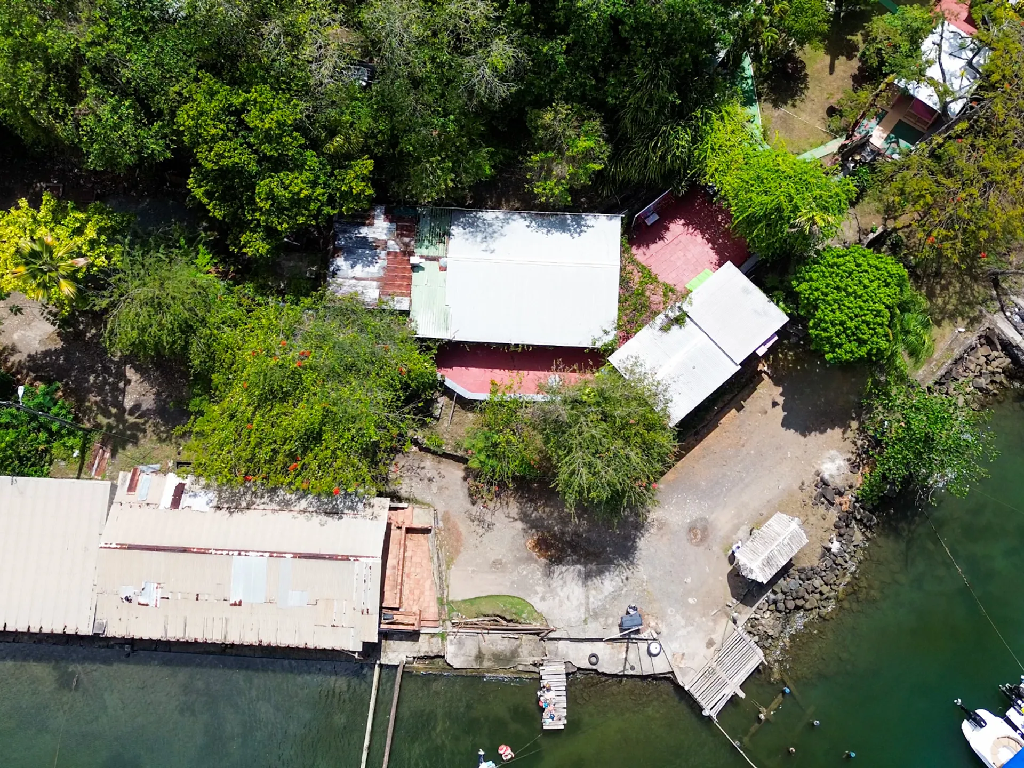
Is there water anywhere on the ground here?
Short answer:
Yes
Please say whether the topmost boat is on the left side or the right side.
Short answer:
right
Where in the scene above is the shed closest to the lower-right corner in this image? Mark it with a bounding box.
[728,512,807,583]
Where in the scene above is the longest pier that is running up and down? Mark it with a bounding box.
[540,658,567,729]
